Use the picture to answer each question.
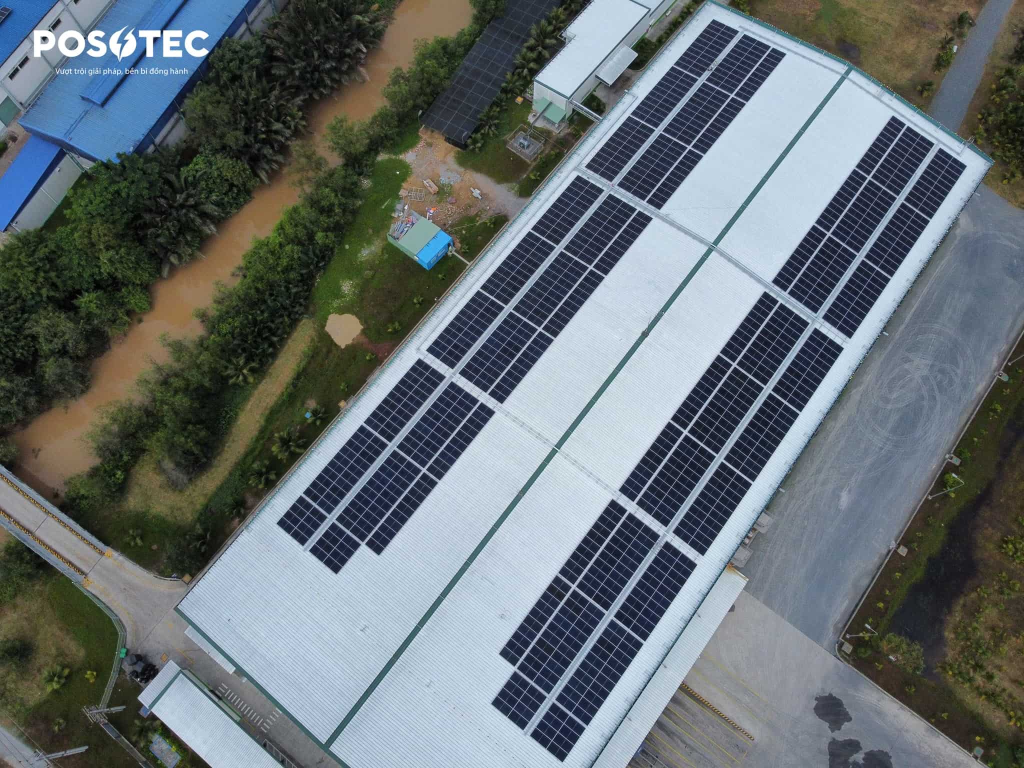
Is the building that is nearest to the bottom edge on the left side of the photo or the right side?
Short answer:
left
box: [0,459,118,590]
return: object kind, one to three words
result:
bridge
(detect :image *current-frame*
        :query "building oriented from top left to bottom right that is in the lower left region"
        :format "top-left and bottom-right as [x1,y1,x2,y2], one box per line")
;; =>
[138,659,297,768]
